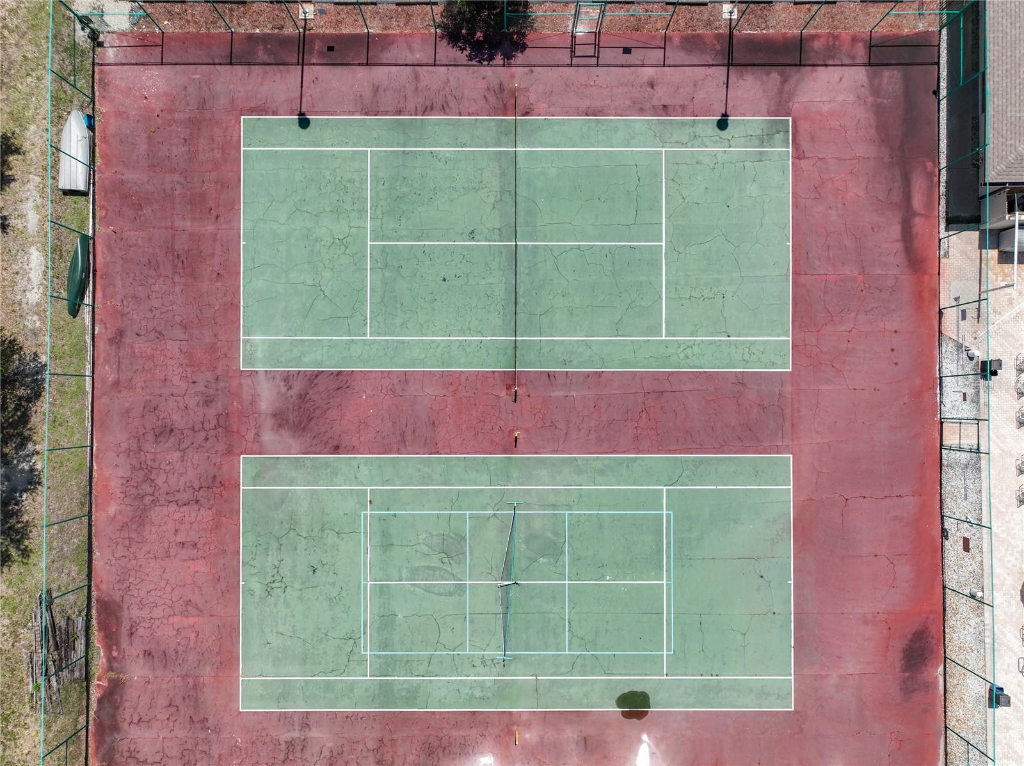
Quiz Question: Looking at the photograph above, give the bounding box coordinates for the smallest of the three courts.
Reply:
[362,512,673,654]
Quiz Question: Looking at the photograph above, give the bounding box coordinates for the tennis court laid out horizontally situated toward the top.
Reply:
[241,116,792,371]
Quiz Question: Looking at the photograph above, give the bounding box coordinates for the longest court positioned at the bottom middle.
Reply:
[240,455,794,711]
